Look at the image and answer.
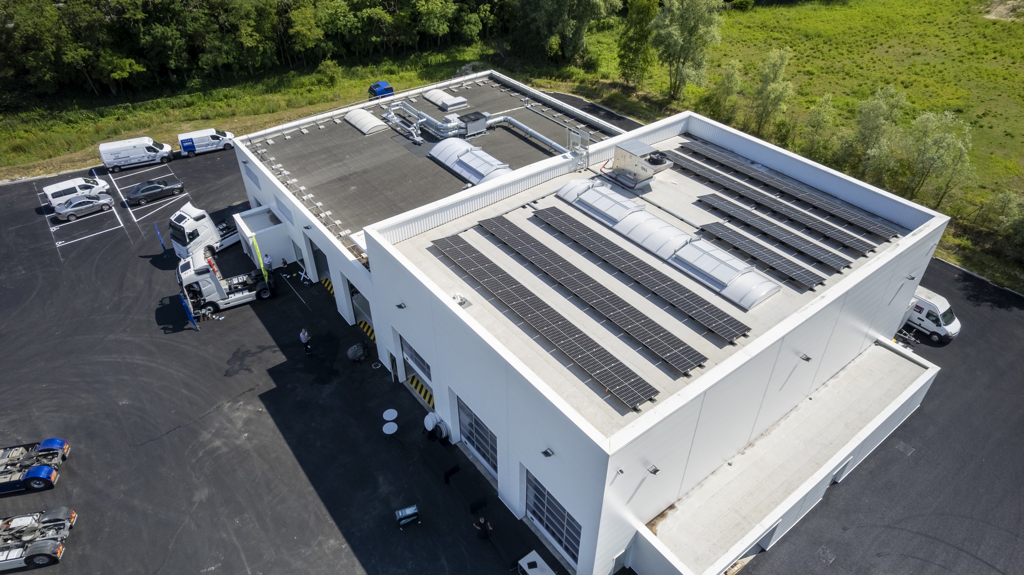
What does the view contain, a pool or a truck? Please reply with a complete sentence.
Of the two, only a truck appears.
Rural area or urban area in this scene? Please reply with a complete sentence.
The area shown here is urban.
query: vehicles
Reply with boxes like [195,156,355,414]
[96,136,172,173]
[122,178,184,206]
[53,193,115,221]
[178,130,234,157]
[0,506,74,568]
[907,288,965,348]
[42,176,111,208]
[0,439,68,491]
[363,81,401,103]
[166,205,239,264]
[177,250,276,316]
